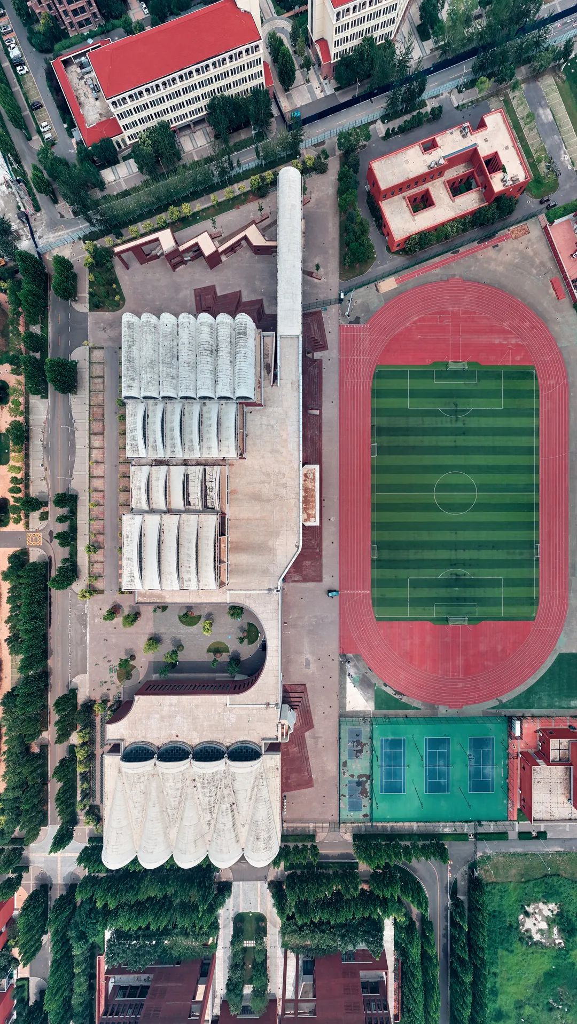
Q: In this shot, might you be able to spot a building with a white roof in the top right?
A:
Yes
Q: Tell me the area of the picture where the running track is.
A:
right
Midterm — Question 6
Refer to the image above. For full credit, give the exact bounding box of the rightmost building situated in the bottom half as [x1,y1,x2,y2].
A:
[517,723,577,825]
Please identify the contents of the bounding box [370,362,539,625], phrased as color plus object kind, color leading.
green sports field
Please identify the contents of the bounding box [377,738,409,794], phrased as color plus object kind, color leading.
blue tennis court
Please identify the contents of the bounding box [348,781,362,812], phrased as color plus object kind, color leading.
blue sports court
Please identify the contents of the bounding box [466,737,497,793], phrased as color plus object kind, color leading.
blue tennis court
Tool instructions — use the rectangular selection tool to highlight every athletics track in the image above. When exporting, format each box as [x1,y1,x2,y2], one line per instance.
[340,278,568,709]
